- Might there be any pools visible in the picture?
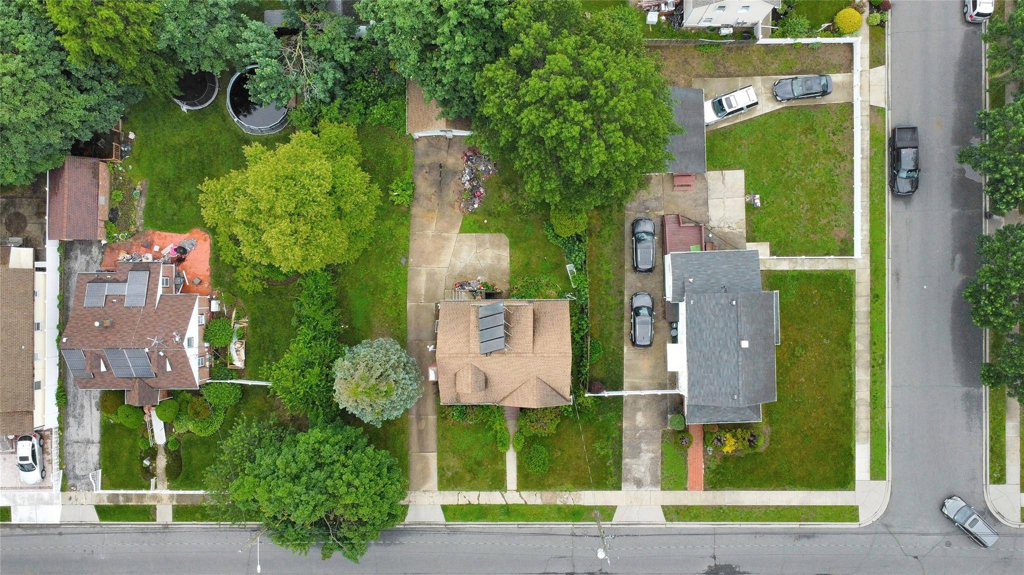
Yes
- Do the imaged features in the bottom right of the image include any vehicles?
Yes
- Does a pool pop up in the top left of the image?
Yes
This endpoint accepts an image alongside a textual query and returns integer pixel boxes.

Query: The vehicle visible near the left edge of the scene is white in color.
[17,431,50,486]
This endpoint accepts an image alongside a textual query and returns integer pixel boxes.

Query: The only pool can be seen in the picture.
[227,69,293,133]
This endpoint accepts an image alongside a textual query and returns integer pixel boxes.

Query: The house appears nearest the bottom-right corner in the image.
[659,249,782,424]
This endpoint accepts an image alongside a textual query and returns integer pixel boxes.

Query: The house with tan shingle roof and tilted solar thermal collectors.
[429,299,574,409]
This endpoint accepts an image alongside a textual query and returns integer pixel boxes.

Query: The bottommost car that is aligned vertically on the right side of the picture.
[629,292,656,349]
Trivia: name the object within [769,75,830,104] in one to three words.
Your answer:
car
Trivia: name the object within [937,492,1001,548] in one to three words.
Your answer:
car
